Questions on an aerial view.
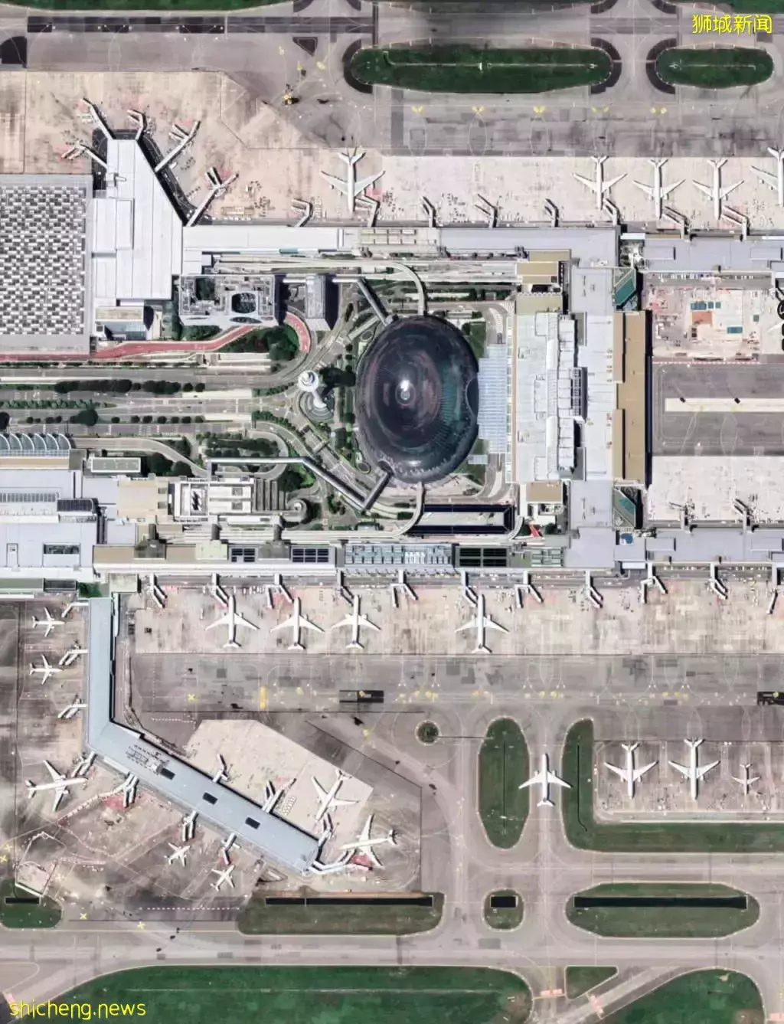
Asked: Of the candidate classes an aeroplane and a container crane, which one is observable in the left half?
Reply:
aeroplane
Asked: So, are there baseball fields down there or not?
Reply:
No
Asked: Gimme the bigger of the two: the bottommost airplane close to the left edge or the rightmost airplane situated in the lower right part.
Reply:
the bottommost airplane close to the left edge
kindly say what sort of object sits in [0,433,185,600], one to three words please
building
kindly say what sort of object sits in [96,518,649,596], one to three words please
building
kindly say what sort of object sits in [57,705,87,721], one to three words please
jet bridge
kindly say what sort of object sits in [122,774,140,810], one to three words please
jet bridge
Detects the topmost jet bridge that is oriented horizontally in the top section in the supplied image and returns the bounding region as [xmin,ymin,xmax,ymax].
[60,143,107,169]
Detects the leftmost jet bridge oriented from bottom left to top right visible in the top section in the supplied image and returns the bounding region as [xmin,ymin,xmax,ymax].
[156,121,202,173]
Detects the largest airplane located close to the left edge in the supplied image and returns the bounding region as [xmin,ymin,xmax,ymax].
[26,760,86,810]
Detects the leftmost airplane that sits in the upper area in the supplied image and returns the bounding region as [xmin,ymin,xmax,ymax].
[318,146,383,214]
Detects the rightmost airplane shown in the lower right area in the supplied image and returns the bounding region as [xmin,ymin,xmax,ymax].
[731,764,760,796]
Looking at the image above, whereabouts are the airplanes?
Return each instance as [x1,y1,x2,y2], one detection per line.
[331,595,380,648]
[310,771,356,820]
[630,156,684,218]
[270,598,322,650]
[751,143,784,206]
[454,594,507,653]
[731,764,760,796]
[573,153,626,210]
[691,156,742,219]
[318,146,383,214]
[26,760,86,810]
[519,754,571,806]
[205,596,258,648]
[29,656,63,684]
[164,846,189,868]
[341,813,394,867]
[668,735,720,800]
[209,865,234,892]
[603,739,657,799]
